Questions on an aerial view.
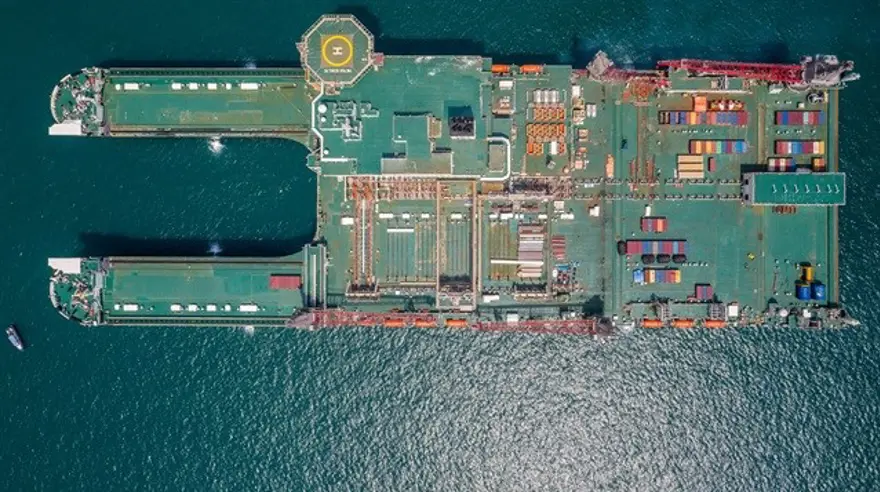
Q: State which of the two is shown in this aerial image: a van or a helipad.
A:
helipad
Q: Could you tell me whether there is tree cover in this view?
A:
No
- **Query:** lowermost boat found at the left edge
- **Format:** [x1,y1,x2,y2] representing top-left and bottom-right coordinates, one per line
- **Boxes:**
[3,325,21,349]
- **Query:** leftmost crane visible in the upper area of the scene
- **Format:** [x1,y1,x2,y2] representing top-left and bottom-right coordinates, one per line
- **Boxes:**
[573,50,667,86]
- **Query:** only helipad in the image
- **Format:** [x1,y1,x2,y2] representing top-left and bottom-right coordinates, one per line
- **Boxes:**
[296,15,384,93]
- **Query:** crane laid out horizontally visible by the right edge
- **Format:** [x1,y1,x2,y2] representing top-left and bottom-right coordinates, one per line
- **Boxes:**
[656,55,860,96]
